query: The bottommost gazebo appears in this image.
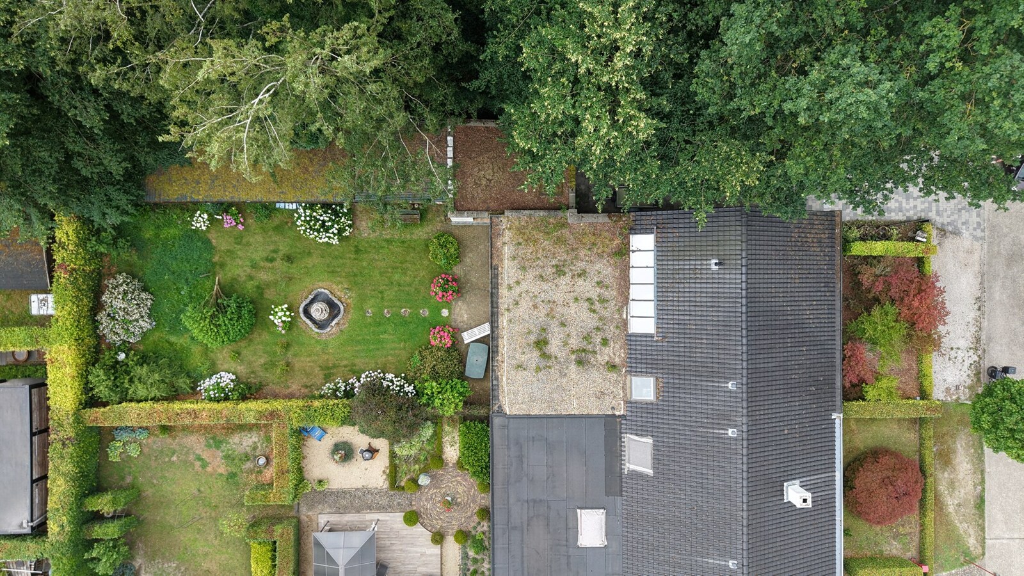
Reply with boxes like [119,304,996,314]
[313,519,379,576]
